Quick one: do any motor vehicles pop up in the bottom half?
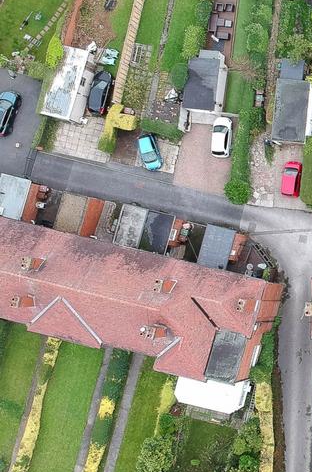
No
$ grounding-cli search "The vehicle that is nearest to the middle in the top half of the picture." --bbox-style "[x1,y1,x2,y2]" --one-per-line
[136,132,166,173]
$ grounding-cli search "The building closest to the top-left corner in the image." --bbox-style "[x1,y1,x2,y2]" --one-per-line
[41,46,104,121]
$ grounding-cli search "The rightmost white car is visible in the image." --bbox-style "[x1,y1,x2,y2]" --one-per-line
[211,117,235,158]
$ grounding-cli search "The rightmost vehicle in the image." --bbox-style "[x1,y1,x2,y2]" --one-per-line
[281,159,303,198]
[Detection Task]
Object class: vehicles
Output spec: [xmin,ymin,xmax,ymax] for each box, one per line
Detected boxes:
[0,92,24,137]
[211,117,235,158]
[281,159,303,198]
[88,71,114,115]
[136,132,166,173]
